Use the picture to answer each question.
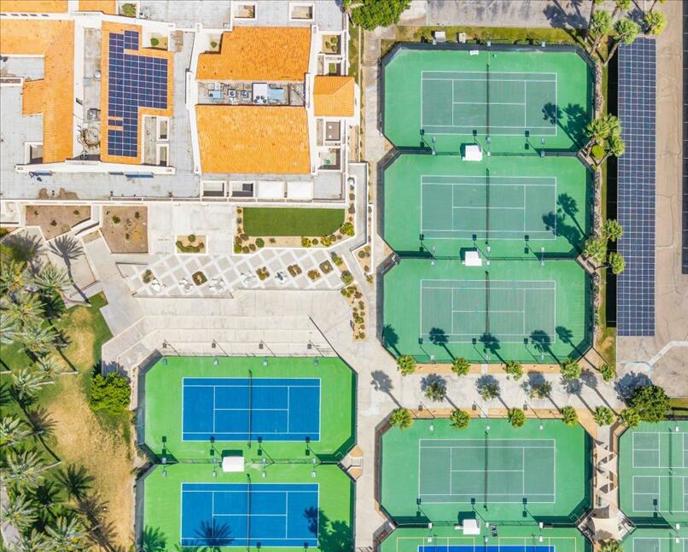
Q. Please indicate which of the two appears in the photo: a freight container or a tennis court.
tennis court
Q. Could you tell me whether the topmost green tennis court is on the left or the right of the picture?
right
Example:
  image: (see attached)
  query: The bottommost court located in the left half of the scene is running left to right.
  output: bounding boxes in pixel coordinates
[143,463,349,552]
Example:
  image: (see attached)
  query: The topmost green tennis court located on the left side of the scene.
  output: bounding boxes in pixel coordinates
[145,355,350,463]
